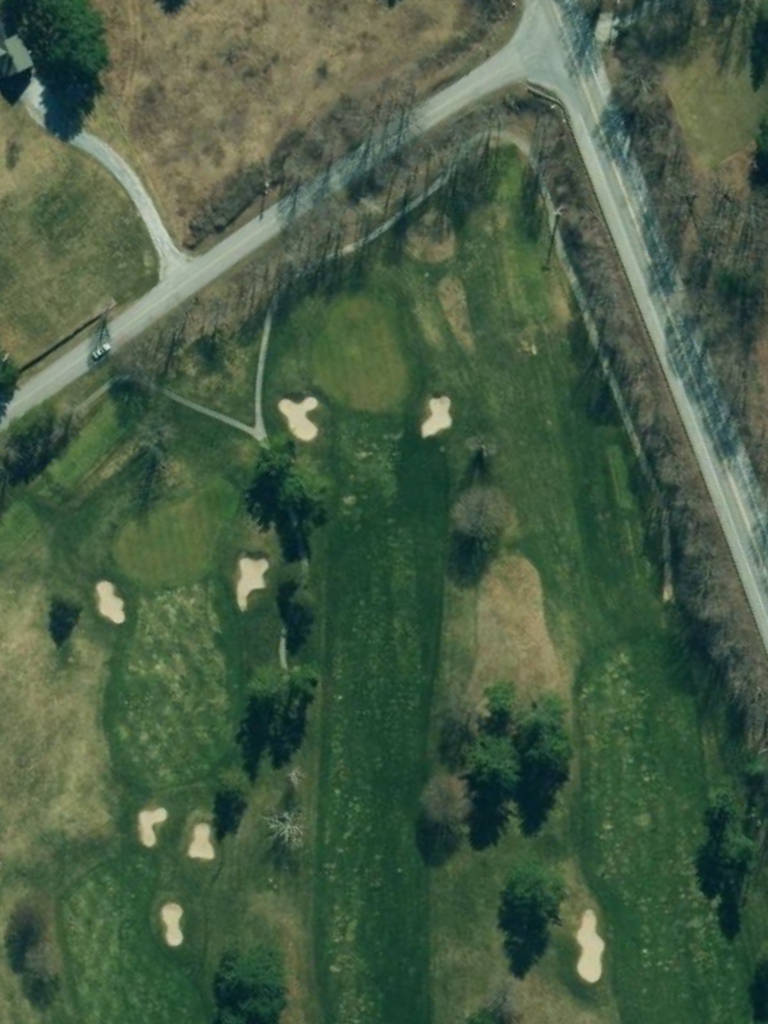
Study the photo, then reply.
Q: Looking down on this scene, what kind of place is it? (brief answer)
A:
golf course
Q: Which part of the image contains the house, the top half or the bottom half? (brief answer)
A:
top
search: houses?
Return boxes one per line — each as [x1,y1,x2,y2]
[0,34,31,70]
